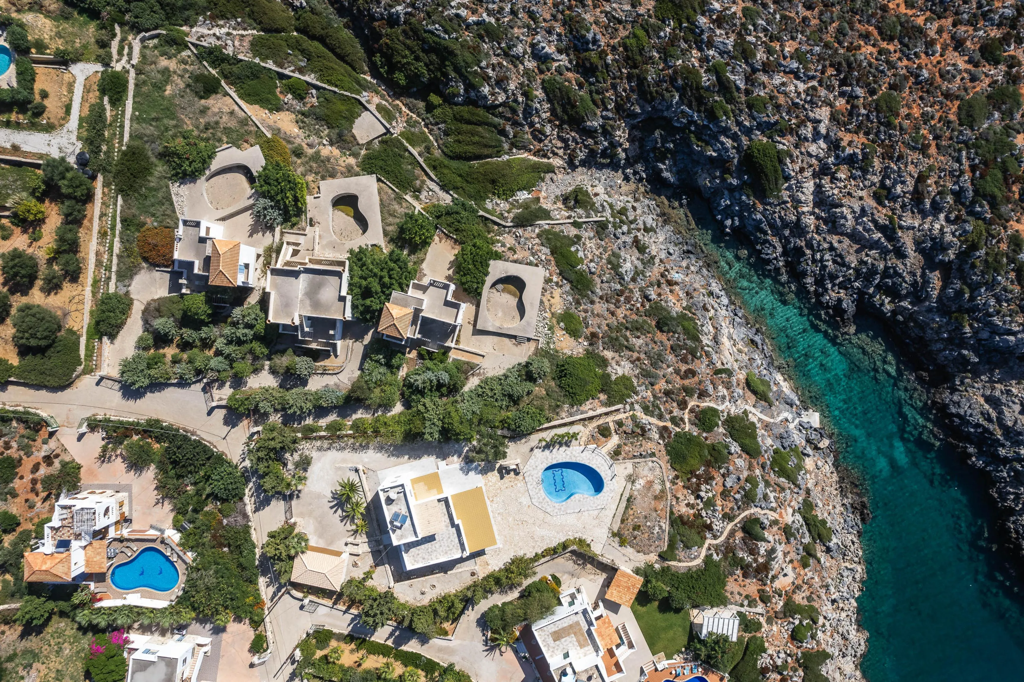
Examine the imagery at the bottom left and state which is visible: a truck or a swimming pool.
swimming pool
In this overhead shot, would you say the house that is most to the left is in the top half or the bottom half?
bottom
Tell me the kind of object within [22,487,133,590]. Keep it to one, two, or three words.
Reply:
house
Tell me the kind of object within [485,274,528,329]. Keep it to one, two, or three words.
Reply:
swimming pool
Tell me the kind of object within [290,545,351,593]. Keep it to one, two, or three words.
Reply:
building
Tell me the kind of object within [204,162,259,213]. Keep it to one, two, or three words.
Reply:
swimming pool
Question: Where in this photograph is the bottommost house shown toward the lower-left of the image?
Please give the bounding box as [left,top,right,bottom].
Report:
[126,628,219,682]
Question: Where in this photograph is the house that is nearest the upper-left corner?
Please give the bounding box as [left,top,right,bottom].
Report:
[174,218,258,295]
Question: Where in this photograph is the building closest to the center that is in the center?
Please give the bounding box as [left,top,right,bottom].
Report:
[377,278,464,352]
